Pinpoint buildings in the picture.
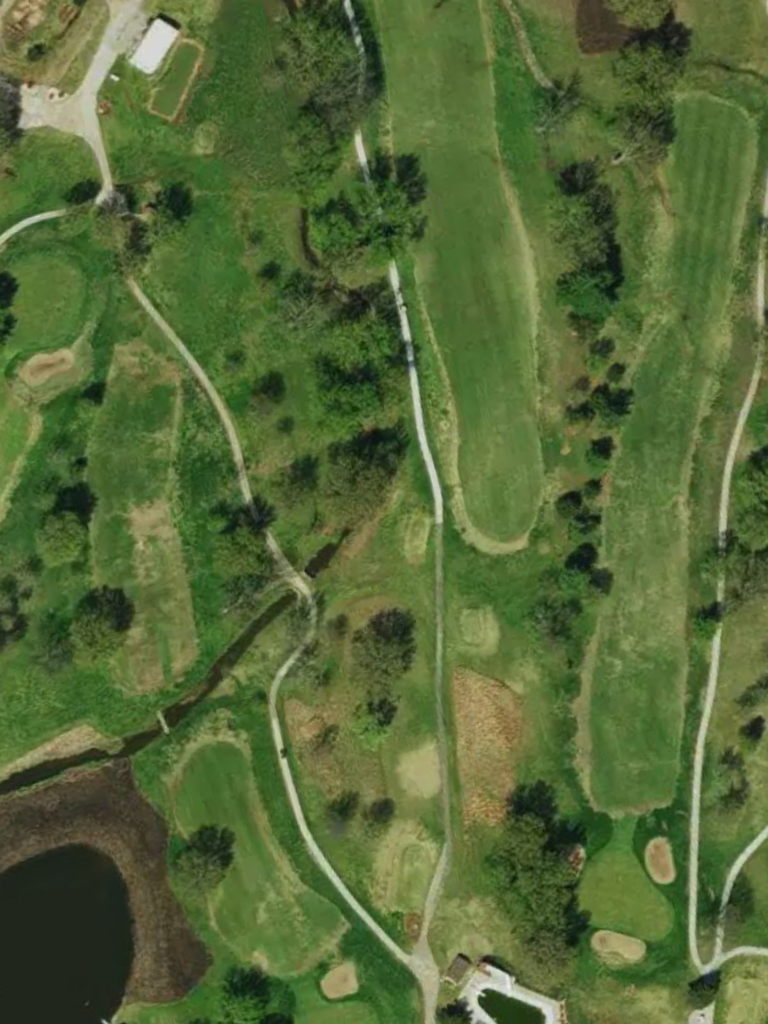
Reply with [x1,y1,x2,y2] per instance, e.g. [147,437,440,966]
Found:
[131,16,179,74]
[447,955,472,983]
[481,965,514,990]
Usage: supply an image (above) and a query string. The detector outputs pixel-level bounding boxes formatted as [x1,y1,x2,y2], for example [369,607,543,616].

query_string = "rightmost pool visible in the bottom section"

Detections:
[461,965,564,1024]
